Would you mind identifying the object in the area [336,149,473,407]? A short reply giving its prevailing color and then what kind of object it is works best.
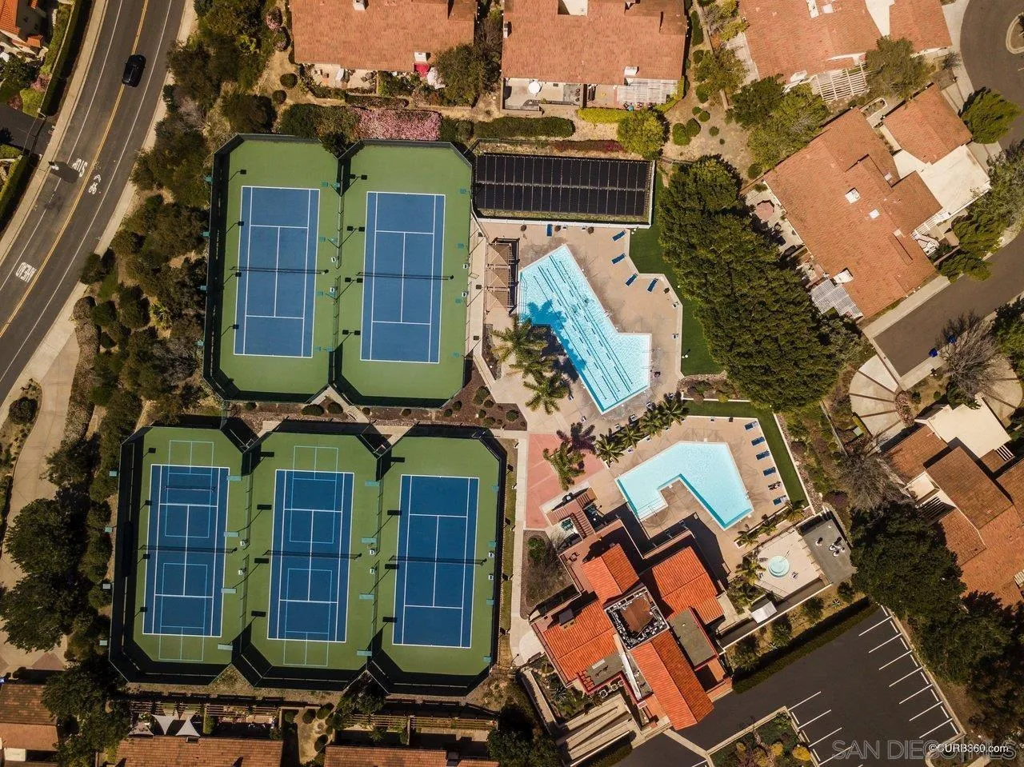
green tennis court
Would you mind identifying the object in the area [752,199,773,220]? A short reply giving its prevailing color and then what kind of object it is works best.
red umbrella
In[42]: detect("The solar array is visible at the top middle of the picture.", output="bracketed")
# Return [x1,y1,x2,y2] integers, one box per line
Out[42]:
[474,155,647,216]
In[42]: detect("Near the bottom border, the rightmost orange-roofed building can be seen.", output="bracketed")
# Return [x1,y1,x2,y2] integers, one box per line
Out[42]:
[528,512,733,741]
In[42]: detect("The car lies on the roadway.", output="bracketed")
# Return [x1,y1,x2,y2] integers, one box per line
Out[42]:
[122,53,146,89]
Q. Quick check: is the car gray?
No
